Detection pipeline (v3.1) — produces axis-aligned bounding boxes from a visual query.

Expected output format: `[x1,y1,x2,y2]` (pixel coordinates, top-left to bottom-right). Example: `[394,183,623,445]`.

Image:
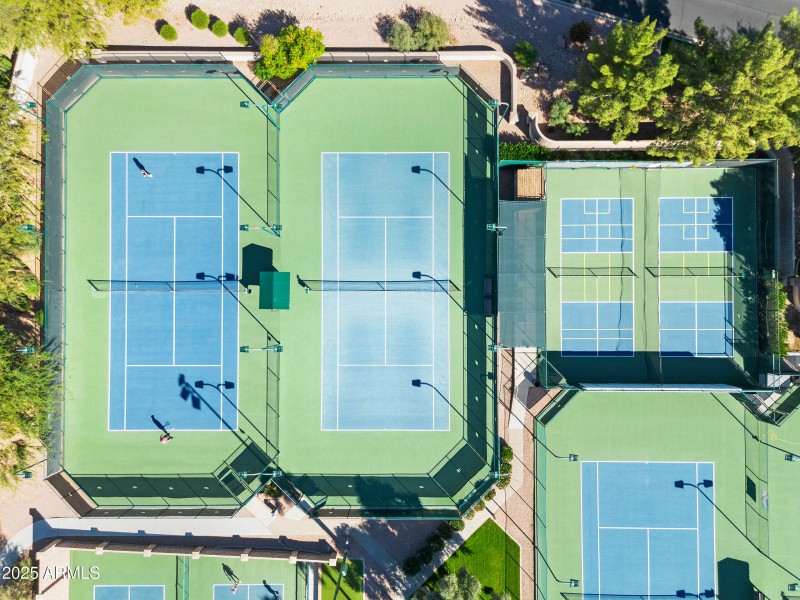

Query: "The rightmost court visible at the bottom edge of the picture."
[760,387,800,600]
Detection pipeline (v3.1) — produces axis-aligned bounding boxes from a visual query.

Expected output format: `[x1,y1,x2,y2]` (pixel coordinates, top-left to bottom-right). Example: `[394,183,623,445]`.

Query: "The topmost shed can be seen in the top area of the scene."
[514,168,543,200]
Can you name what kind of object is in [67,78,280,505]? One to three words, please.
tennis court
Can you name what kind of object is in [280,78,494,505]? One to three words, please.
tennis court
